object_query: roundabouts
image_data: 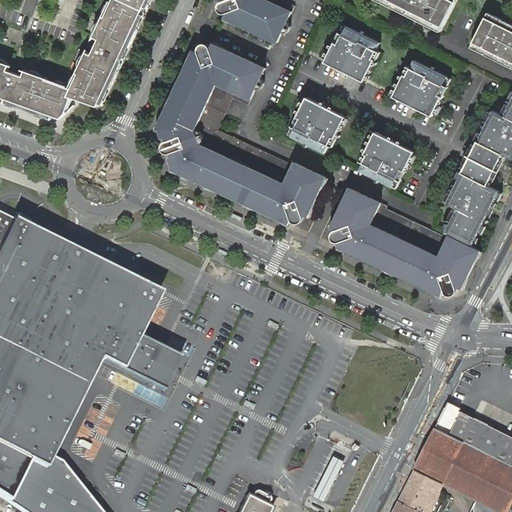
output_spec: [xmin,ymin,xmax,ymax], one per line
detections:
[56,130,149,224]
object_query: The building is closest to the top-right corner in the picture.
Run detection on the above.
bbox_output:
[470,19,512,70]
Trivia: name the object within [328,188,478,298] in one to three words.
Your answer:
building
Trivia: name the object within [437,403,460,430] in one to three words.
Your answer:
shed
